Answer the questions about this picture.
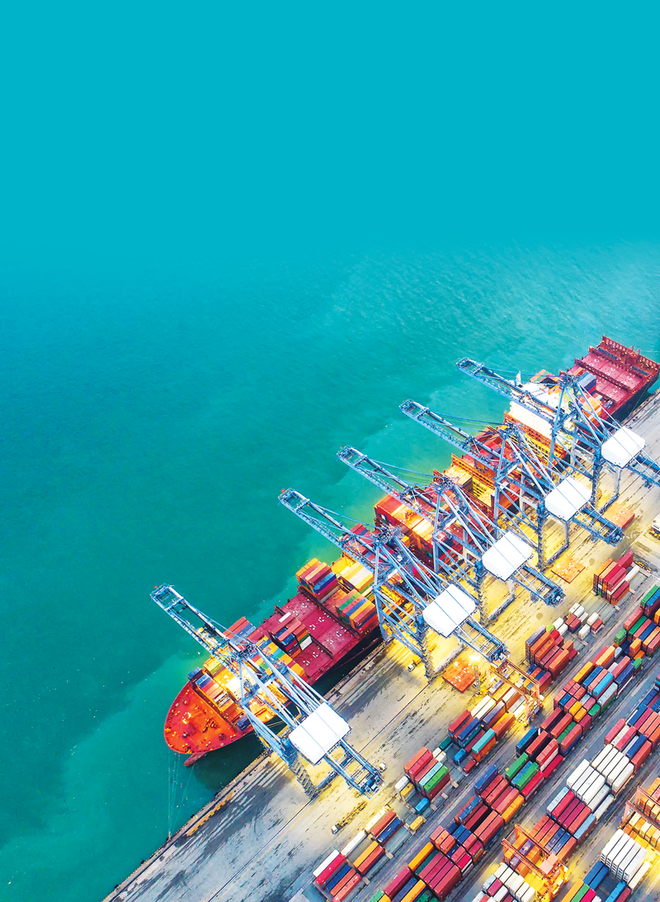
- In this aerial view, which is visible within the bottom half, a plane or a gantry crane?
gantry crane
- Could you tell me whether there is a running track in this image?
No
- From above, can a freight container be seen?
Yes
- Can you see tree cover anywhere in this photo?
No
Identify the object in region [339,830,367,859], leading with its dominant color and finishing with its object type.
white shipping container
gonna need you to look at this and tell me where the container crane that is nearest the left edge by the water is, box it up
[144,578,390,805]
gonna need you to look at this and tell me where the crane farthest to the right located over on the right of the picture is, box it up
[622,788,660,837]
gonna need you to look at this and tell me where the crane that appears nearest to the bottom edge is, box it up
[501,822,570,901]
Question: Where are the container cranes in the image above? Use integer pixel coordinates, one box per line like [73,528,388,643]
[144,578,390,805]
[456,354,660,522]
[622,788,660,837]
[333,443,570,633]
[274,484,515,687]
[396,397,628,577]
[501,822,570,901]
